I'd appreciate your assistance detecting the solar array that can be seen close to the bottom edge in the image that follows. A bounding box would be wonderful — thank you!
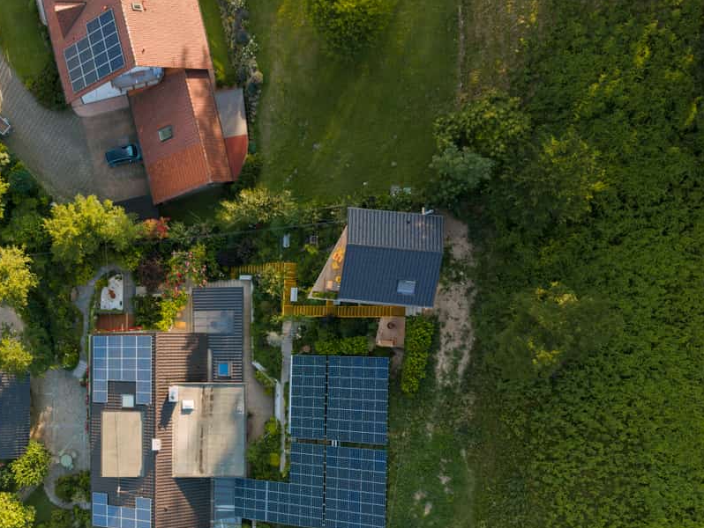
[91,493,150,528]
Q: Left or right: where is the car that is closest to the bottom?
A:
left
